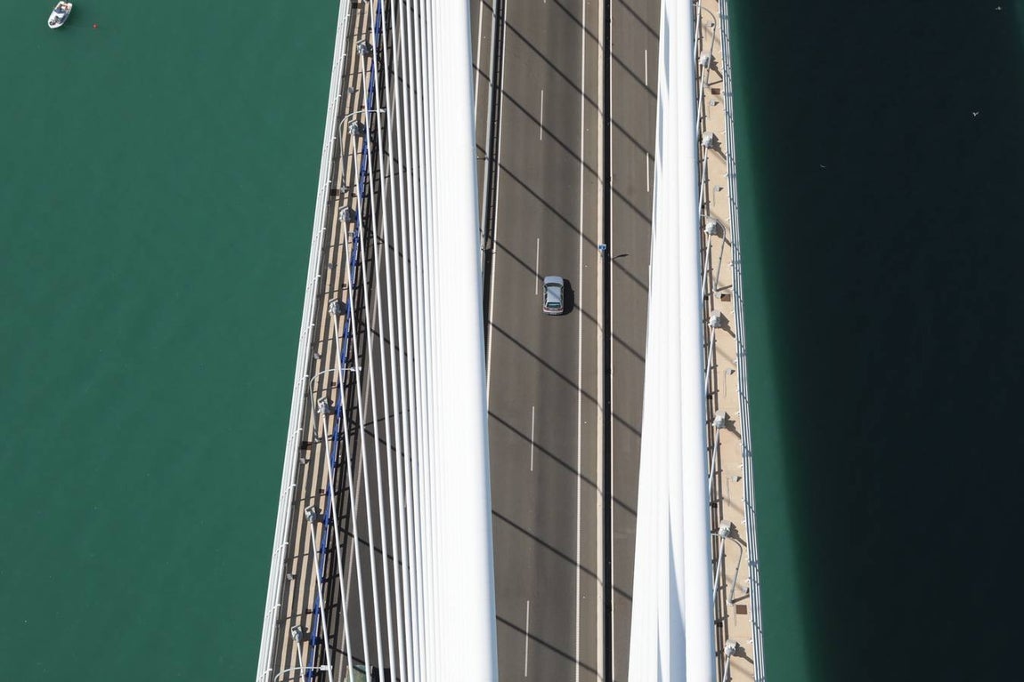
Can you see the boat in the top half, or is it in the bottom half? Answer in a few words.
top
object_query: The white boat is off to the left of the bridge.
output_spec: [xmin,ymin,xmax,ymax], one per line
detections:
[49,0,72,30]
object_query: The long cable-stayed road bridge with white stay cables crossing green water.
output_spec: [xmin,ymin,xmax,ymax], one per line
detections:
[263,0,764,682]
